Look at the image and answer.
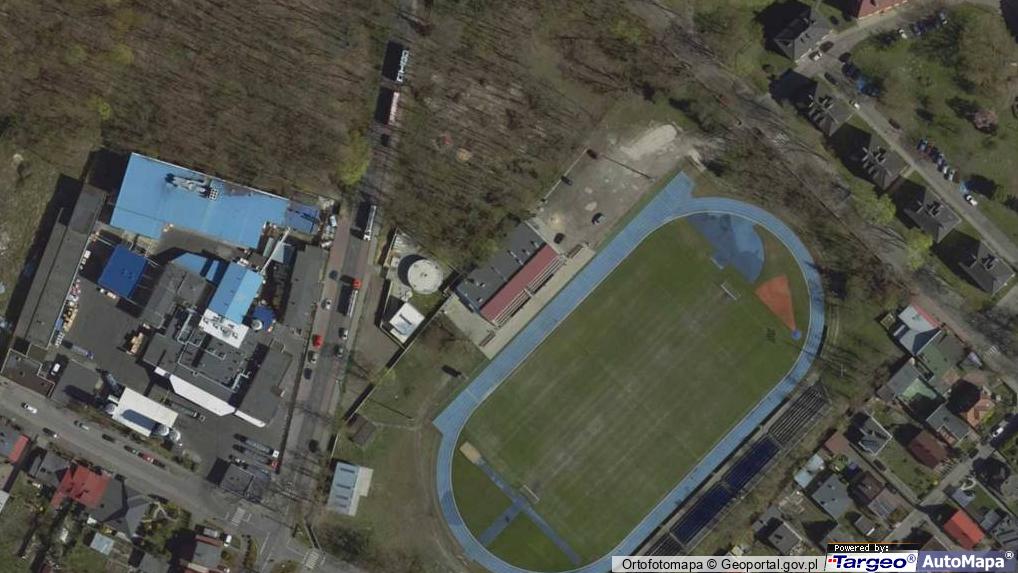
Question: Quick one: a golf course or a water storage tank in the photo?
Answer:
water storage tank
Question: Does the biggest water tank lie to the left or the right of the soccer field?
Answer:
to the left of it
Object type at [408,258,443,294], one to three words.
water tank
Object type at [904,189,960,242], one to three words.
house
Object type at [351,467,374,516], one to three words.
building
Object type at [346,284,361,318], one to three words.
vehicle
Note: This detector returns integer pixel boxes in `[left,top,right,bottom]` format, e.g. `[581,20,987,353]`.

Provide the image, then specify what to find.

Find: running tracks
[430,167,826,573]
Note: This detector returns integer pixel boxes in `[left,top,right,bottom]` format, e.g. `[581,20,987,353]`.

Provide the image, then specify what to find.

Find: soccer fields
[453,211,809,573]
